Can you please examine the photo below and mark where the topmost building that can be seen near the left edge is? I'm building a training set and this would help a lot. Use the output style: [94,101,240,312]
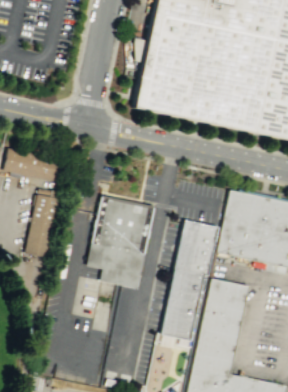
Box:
[5,144,58,180]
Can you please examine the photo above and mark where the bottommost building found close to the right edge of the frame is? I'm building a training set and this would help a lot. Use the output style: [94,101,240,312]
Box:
[186,278,286,392]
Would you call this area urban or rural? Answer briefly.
urban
